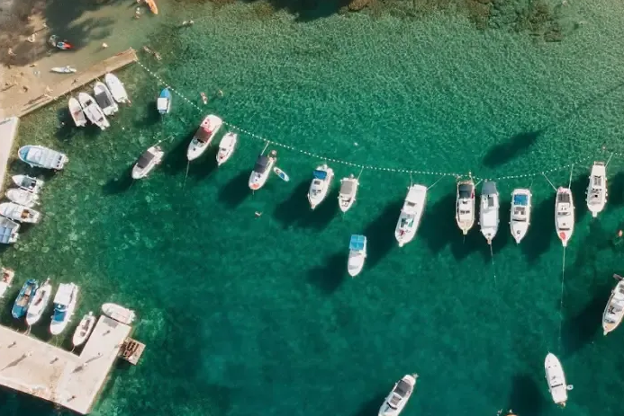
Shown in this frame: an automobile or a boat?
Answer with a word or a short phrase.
boat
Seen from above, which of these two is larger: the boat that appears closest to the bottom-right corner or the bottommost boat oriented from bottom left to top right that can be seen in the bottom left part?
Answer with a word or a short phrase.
the boat that appears closest to the bottom-right corner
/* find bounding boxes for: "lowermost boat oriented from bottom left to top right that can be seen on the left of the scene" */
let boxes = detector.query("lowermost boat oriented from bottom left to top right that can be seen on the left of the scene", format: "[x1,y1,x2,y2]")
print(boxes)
[72,312,97,352]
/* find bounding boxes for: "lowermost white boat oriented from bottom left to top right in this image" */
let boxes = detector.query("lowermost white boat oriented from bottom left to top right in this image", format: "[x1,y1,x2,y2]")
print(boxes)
[379,370,418,416]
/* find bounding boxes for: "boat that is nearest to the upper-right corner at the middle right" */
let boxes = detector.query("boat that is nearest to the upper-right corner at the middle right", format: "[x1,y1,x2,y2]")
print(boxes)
[577,155,611,217]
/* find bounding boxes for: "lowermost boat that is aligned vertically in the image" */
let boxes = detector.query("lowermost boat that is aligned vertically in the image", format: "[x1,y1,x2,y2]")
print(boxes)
[544,351,569,408]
